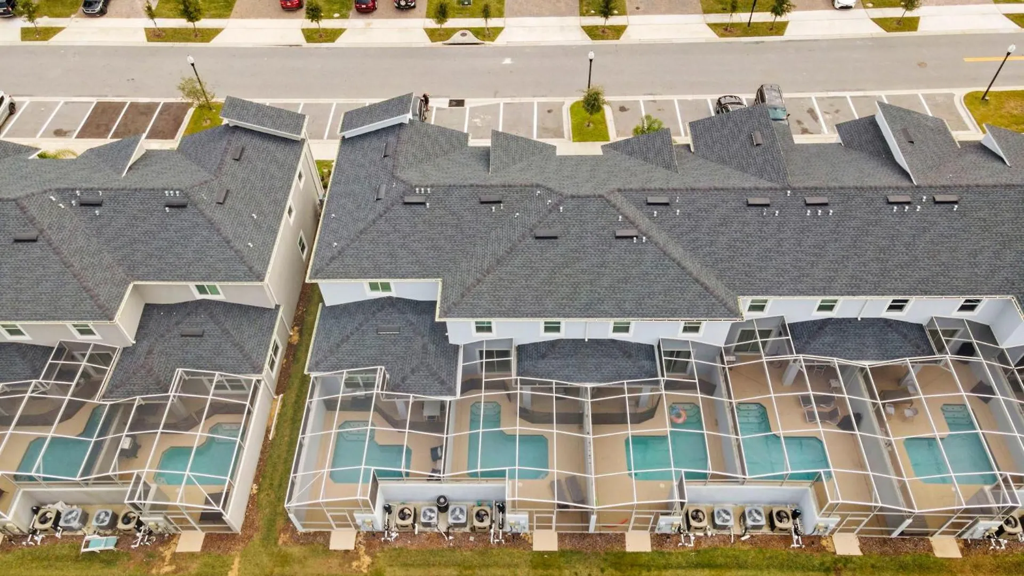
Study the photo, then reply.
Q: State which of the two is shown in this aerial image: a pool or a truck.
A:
pool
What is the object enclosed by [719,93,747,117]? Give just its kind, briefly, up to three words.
car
